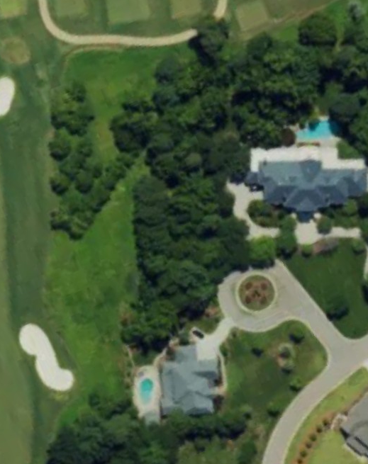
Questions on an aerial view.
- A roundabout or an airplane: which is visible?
roundabout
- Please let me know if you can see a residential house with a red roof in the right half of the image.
No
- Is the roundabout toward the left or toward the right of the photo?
right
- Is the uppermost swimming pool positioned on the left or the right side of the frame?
right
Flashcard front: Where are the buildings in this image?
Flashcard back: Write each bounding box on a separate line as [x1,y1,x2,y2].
[339,390,368,456]
[152,344,219,421]
[245,158,367,223]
